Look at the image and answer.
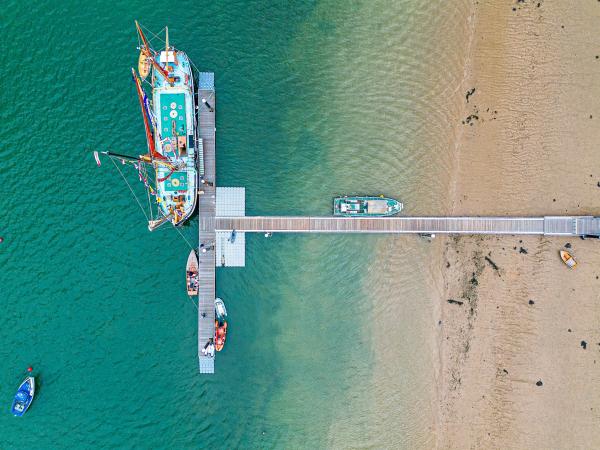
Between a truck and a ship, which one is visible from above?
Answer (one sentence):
The image shows a ship.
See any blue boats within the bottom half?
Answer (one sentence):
Yes, a blue boat shows up within the bottom half.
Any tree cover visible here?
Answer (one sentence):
No, the scene doesn't show any tree cover.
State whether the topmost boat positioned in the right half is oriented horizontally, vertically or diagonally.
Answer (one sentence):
What the image shows is the topmost boat positioned in the right half lying horizontally.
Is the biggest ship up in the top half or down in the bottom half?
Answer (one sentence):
The biggest ship is in the top half of the image.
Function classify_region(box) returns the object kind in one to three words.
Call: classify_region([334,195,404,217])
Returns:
boat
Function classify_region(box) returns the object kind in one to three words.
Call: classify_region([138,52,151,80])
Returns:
boat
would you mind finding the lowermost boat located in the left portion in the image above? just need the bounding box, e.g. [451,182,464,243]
[11,376,36,419]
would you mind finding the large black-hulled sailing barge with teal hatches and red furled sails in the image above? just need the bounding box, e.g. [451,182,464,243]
[97,20,199,229]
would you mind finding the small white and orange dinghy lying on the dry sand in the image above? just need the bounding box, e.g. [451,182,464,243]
[561,250,578,270]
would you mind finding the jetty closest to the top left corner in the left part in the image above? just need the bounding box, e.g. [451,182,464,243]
[197,86,216,359]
